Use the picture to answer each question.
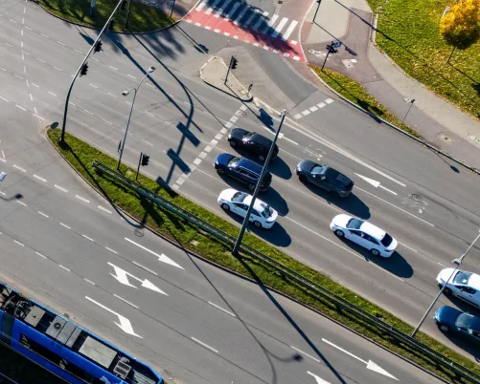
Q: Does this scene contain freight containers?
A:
No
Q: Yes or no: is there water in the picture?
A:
No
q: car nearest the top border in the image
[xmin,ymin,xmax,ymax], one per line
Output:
[224,129,283,165]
